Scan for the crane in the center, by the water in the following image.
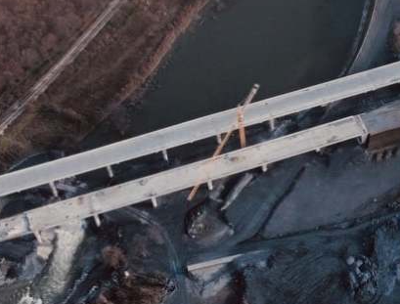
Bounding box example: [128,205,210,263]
[187,79,251,197]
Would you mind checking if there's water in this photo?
Yes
